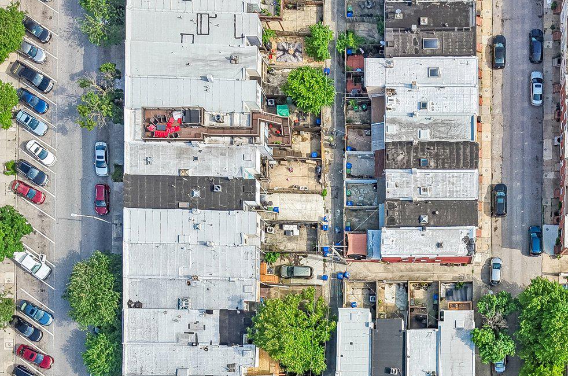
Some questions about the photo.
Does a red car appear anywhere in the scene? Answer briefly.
Yes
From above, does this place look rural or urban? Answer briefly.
urban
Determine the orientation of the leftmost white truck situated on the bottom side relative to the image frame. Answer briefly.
on a diagonal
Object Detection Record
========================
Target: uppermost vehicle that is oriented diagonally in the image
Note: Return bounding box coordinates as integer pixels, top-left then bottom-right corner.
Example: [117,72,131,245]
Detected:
[24,15,56,44]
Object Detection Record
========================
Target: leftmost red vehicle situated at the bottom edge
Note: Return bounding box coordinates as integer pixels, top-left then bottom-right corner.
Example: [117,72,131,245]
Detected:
[19,342,54,369]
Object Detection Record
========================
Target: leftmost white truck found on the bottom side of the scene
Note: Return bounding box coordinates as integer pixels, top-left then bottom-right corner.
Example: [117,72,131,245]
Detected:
[10,248,53,281]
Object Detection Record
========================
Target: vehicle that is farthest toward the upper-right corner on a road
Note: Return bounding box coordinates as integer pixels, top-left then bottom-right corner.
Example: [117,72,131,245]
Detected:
[528,31,545,62]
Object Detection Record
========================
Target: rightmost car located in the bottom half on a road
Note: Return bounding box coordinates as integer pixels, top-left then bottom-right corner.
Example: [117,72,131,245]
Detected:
[526,226,544,257]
